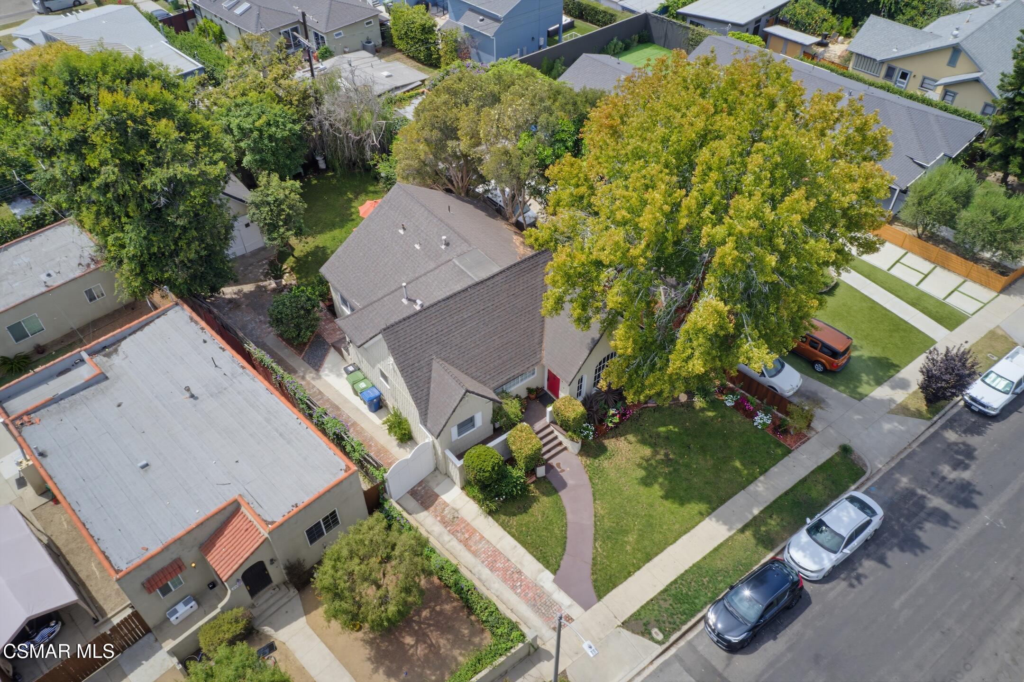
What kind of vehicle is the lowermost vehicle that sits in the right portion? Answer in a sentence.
The lowermost vehicle that sits in the right portion appears to be a car.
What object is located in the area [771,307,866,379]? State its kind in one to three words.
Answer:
car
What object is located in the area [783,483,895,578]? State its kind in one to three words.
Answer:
car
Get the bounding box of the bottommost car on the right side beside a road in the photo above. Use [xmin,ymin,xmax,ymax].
[700,548,812,653]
